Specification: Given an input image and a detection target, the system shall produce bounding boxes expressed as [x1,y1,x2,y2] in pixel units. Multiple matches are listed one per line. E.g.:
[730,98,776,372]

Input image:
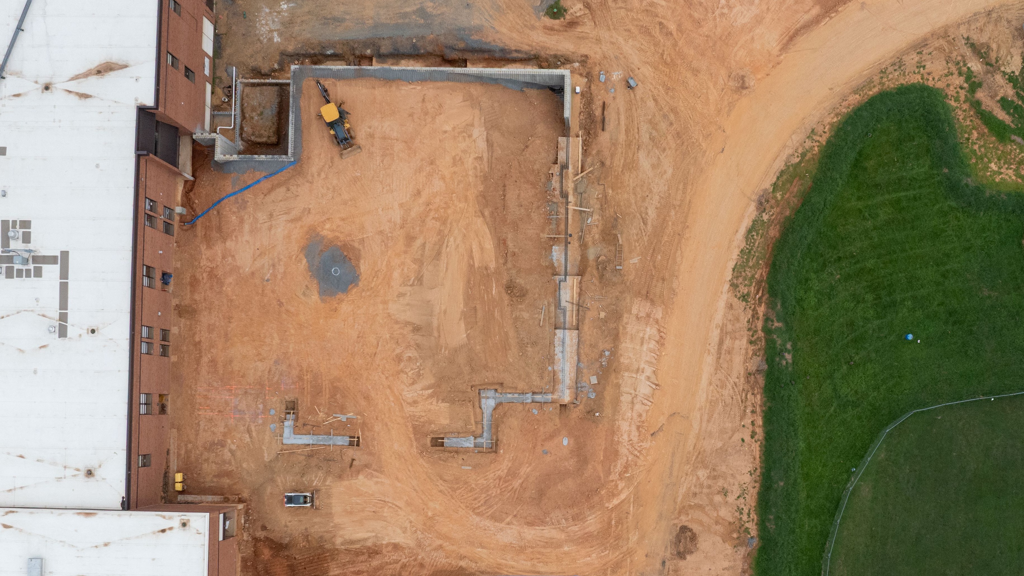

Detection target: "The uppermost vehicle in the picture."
[313,79,365,160]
